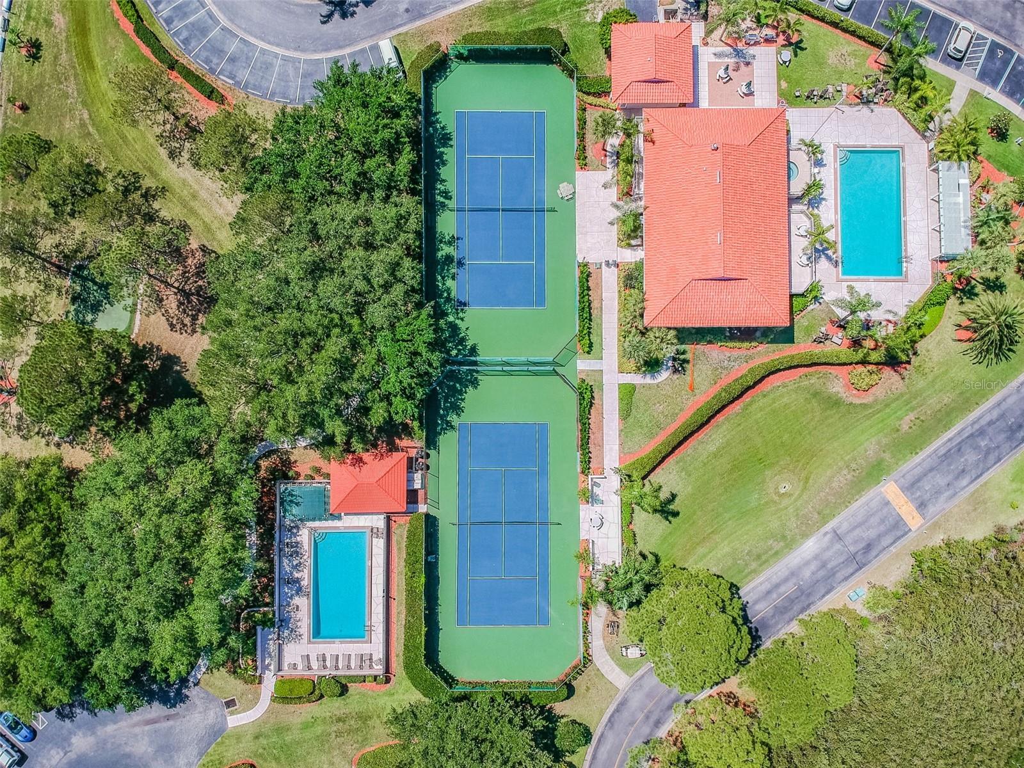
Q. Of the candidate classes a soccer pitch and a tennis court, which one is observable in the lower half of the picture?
tennis court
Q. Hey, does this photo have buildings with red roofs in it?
Yes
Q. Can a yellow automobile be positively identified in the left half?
No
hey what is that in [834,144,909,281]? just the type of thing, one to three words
swimming pool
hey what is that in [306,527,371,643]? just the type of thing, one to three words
swimming pool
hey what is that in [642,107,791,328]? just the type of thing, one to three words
building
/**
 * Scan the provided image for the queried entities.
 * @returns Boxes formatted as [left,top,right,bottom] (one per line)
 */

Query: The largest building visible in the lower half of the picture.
[330,452,407,514]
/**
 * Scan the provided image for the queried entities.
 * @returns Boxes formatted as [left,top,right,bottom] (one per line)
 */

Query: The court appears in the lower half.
[428,365,580,681]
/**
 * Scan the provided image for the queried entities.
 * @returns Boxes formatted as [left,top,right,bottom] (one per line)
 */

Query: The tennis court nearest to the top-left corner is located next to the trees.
[425,57,577,365]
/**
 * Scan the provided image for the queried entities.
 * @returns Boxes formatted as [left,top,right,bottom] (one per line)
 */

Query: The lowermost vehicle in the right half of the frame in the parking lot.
[944,20,974,61]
